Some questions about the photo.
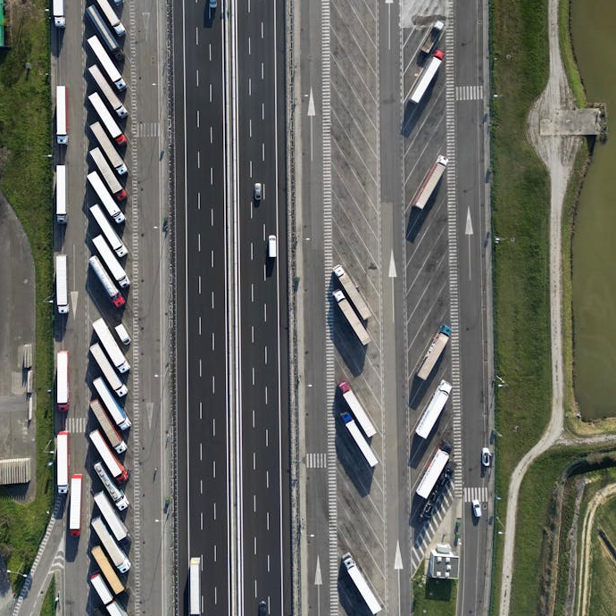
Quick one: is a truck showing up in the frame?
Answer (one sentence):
Yes, a truck is visible in the scene.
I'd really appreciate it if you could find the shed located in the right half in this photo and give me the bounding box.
[431,546,459,579]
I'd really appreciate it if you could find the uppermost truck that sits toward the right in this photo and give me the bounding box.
[420,22,446,58]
